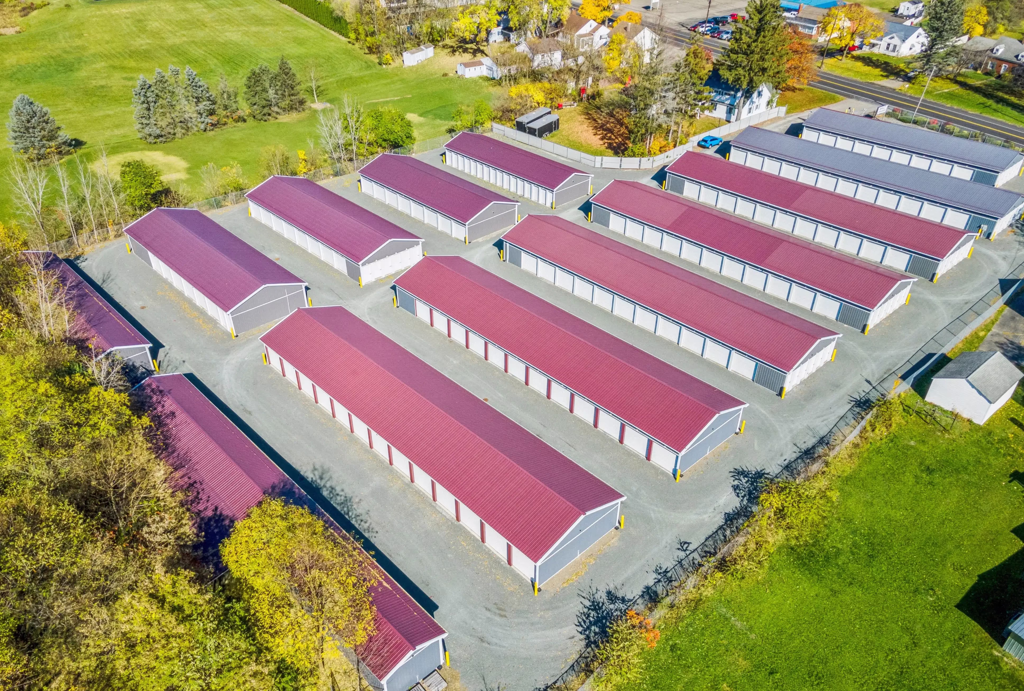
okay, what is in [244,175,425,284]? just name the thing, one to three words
building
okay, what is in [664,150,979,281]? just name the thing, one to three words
building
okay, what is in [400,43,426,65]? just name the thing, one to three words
shed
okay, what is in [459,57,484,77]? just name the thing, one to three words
shed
